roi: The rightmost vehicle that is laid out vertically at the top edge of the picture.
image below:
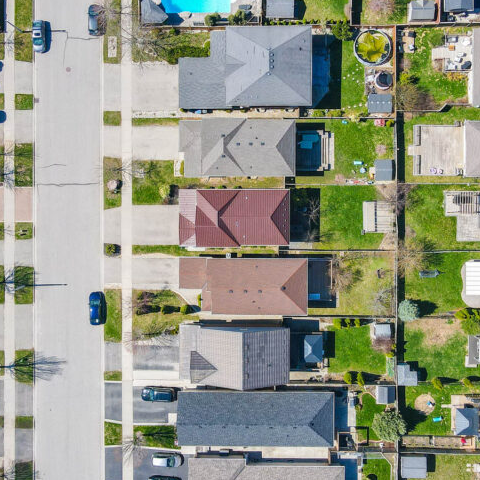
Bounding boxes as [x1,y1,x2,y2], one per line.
[88,5,103,36]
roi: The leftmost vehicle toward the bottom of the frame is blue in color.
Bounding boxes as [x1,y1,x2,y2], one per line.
[88,291,105,324]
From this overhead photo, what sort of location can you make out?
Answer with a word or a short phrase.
residential area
